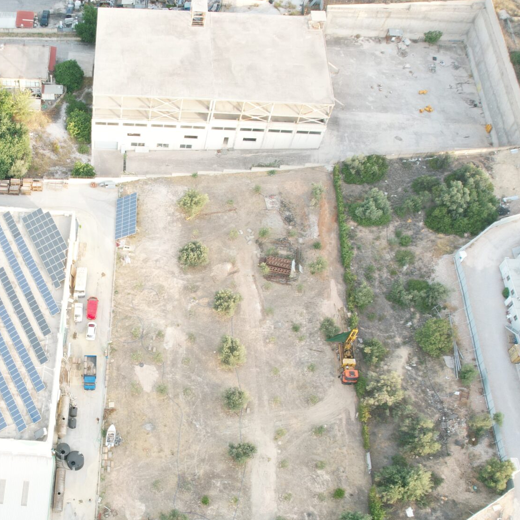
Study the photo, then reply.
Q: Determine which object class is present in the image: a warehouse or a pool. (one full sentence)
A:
It is a warehouse that can be seen here.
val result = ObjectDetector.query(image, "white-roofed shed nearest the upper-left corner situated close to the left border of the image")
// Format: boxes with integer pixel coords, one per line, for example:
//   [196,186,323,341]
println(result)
[0,12,16,38]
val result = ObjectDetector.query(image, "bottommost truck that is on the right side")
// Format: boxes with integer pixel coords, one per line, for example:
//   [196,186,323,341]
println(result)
[340,322,361,388]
